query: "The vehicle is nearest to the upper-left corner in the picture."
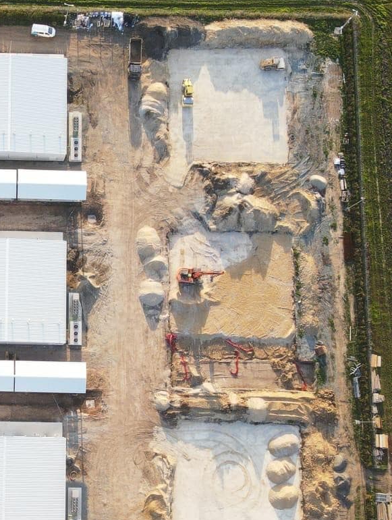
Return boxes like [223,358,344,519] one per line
[32,21,55,38]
